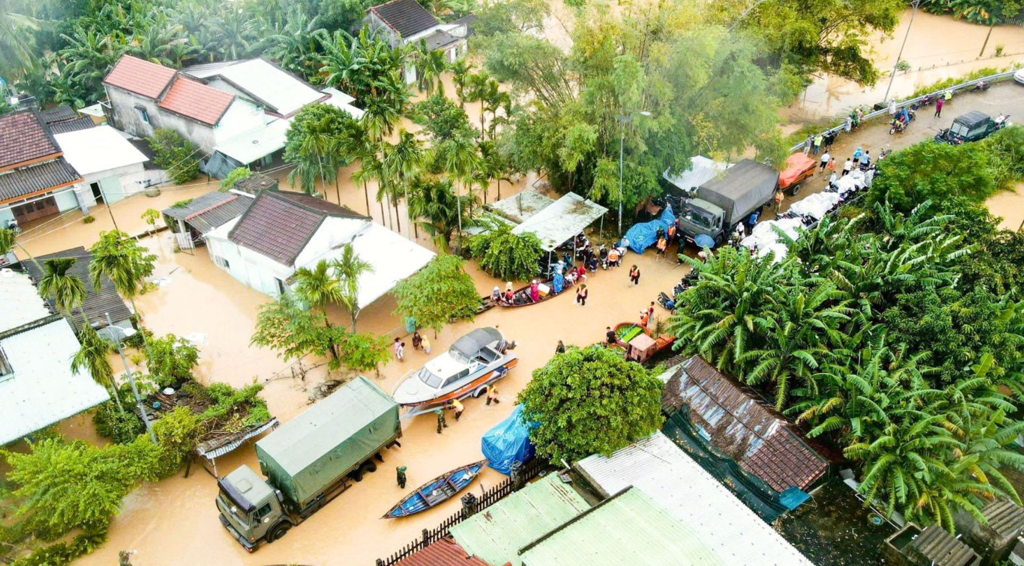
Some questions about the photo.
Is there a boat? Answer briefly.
Yes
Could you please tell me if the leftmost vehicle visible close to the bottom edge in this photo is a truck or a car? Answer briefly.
truck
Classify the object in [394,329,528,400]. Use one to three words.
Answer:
boat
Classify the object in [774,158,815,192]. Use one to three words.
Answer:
trailer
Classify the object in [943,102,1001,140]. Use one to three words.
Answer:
car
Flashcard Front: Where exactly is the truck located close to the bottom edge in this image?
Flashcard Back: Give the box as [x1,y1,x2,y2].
[214,379,407,563]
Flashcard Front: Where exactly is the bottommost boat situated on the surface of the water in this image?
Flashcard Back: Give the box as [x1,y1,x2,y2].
[378,452,488,520]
